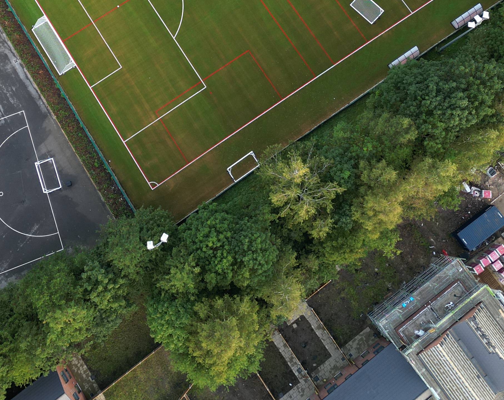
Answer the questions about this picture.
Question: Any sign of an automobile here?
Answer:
No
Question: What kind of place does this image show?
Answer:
sports ground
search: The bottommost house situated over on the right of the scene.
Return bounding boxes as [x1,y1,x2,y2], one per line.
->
[298,340,430,400]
